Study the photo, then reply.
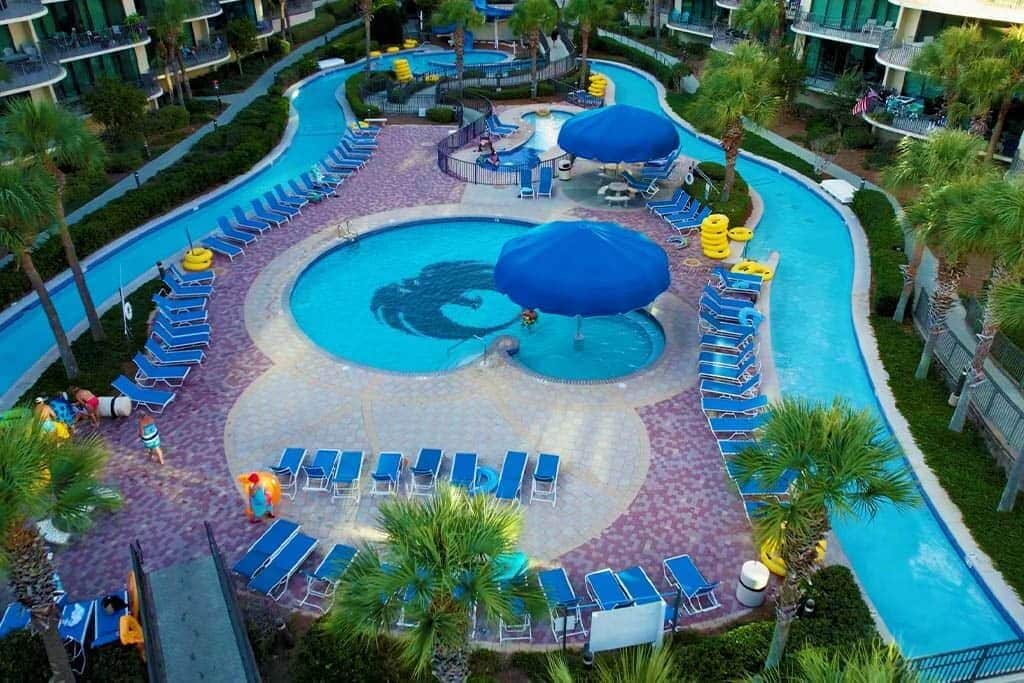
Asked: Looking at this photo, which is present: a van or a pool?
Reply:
pool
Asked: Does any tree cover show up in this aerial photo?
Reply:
Yes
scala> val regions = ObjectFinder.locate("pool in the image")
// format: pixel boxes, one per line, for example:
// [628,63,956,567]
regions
[289,217,665,383]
